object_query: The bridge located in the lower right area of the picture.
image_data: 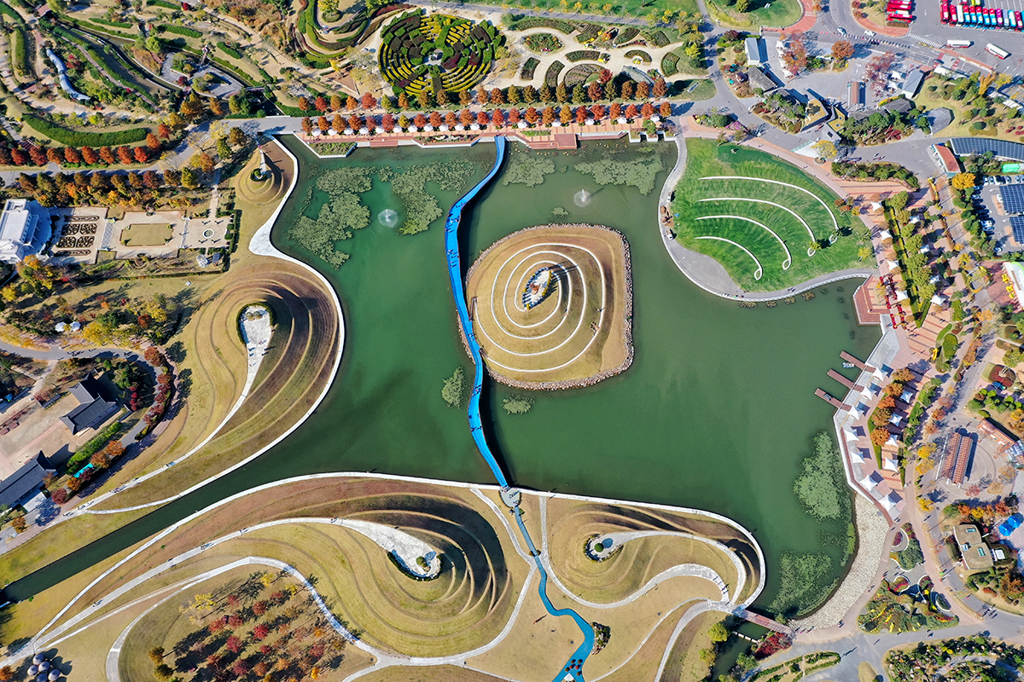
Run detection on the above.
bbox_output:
[740,609,797,639]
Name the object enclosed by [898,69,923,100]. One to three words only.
house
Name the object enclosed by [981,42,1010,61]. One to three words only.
vehicle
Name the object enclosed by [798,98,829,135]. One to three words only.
building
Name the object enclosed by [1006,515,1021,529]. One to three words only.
umbrella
